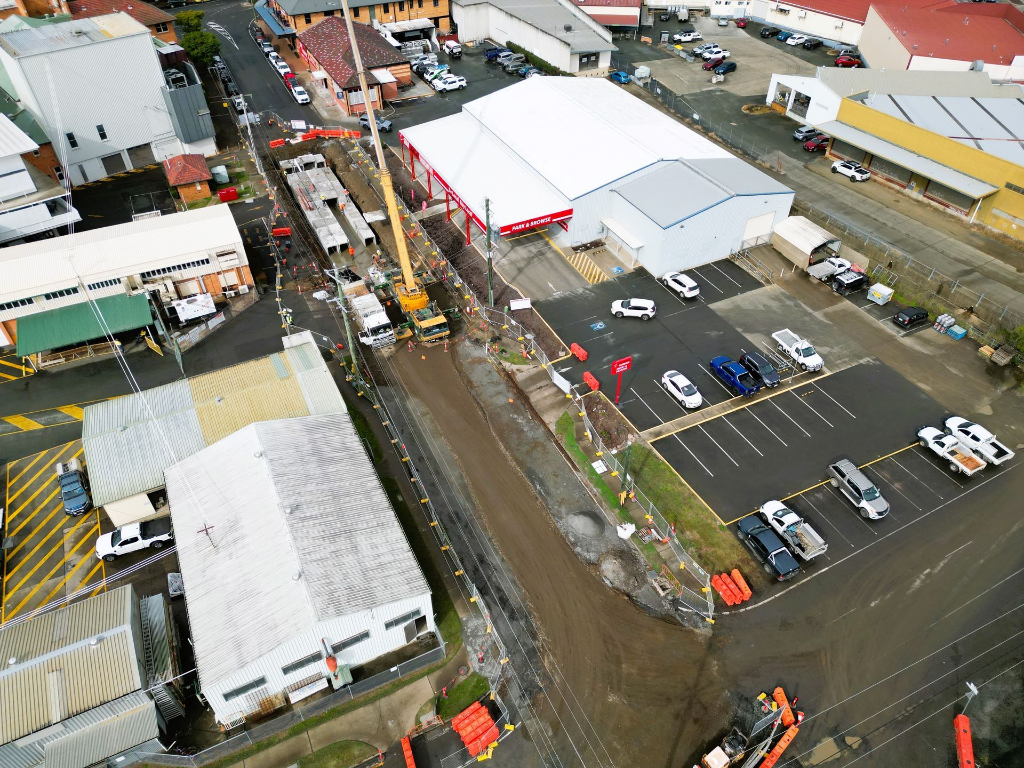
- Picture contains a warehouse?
Yes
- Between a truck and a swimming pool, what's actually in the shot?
truck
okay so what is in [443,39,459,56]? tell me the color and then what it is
white vehicle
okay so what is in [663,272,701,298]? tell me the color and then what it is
white car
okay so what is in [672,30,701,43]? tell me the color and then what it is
white vehicle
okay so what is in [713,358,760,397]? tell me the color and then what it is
blue truck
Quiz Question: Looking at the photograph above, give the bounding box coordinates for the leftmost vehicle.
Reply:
[50,459,89,514]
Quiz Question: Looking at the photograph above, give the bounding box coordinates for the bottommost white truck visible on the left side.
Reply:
[96,519,172,561]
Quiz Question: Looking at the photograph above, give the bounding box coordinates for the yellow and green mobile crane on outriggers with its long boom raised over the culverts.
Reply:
[333,0,459,347]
